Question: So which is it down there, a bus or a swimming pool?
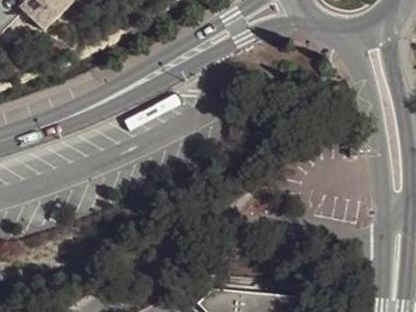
bus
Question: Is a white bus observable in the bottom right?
No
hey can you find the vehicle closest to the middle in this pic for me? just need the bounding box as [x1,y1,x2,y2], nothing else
[124,92,184,132]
